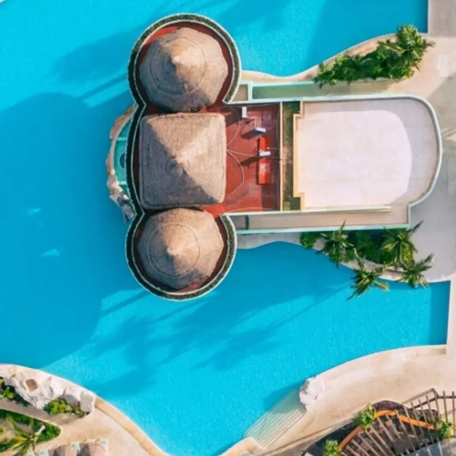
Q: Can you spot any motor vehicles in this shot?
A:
No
